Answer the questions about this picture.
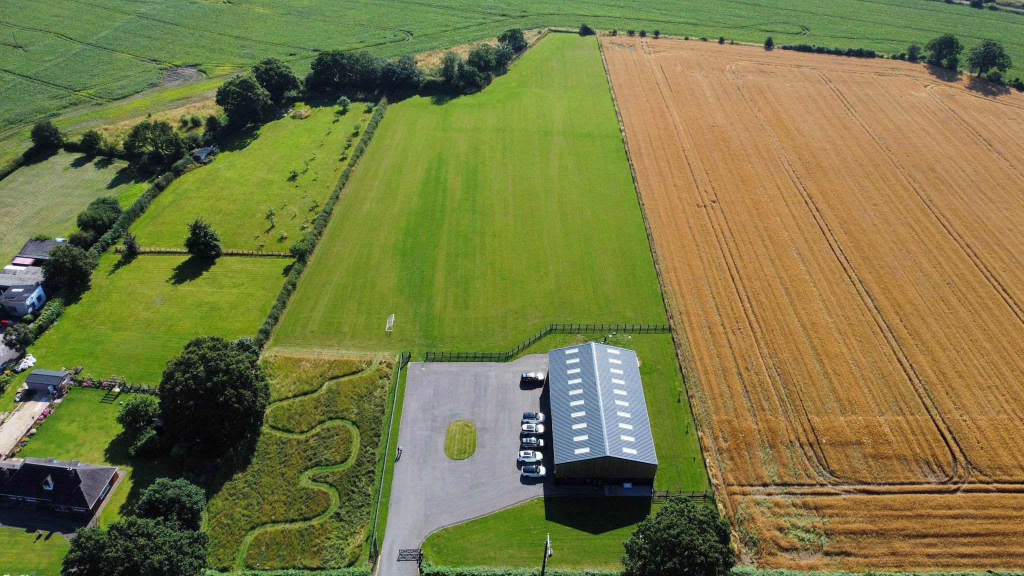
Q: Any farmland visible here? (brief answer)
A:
Yes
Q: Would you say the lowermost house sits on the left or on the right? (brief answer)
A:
left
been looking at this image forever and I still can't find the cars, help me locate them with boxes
[521,373,544,385]
[520,436,545,451]
[518,451,542,464]
[521,424,545,437]
[0,320,15,329]
[520,465,547,479]
[521,413,546,426]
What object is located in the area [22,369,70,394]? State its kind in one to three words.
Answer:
shed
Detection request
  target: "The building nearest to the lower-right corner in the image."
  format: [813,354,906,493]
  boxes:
[548,345,658,482]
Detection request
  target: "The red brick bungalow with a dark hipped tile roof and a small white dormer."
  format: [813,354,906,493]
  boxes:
[0,454,119,516]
